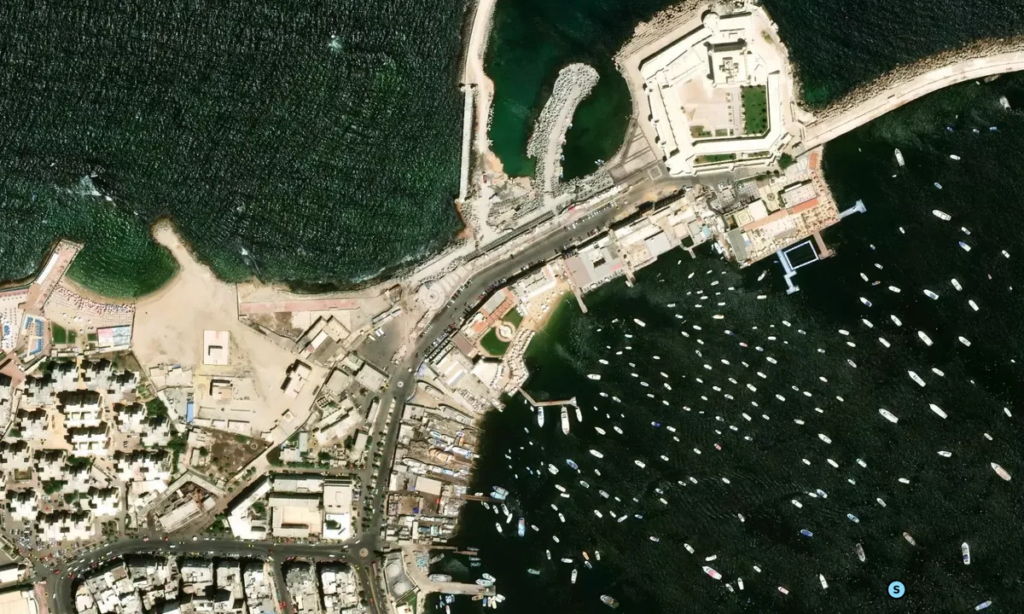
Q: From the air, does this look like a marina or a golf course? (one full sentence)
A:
It's a marina.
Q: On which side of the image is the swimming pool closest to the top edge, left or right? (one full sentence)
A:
The swimming pool closest to the top edge sits on the right side.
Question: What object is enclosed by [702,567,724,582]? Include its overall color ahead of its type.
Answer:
white boat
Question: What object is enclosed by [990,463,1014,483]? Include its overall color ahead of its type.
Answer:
white boat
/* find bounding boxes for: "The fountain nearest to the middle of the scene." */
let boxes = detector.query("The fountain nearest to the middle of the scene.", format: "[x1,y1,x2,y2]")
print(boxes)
[495,321,516,342]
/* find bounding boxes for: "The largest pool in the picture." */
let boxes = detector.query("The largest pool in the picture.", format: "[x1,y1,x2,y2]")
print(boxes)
[784,240,819,270]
